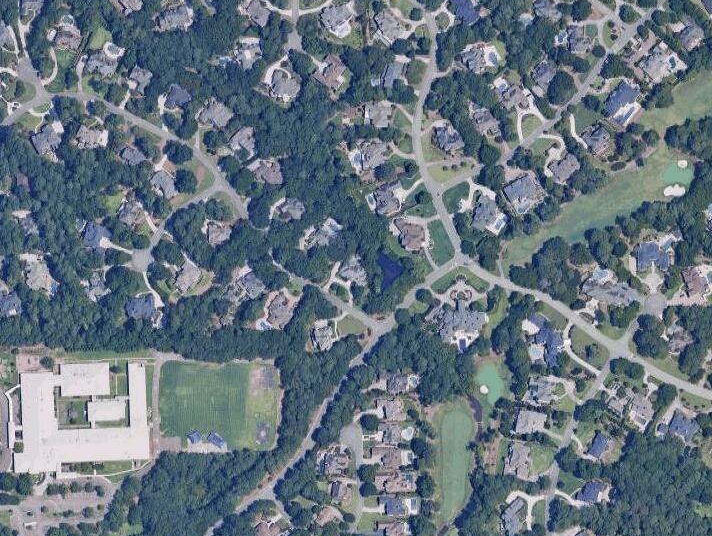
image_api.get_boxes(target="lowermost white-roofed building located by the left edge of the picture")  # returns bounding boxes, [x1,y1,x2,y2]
[6,363,150,478]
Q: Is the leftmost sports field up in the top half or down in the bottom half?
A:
bottom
